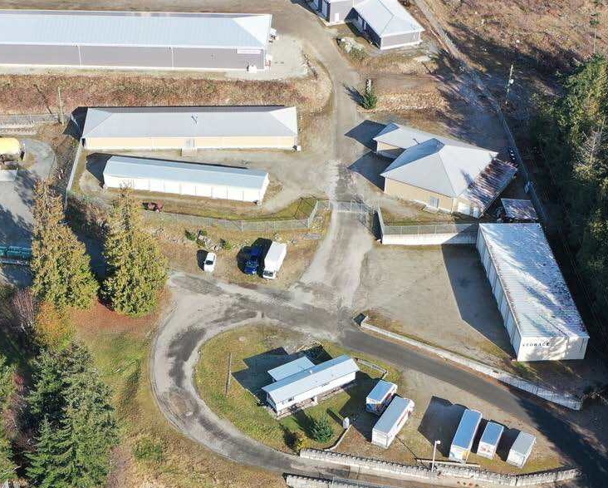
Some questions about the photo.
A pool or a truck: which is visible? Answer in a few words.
truck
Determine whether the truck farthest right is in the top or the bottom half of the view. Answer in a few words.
bottom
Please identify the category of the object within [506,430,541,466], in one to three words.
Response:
truck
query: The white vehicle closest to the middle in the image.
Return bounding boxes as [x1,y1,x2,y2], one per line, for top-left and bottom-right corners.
[261,237,287,277]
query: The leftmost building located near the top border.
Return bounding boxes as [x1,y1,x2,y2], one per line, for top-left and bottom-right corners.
[0,9,273,70]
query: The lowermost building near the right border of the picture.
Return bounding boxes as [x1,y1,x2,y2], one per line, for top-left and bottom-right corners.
[475,221,590,359]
